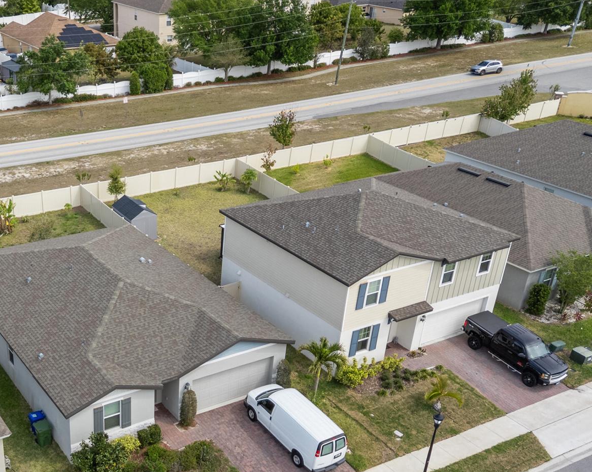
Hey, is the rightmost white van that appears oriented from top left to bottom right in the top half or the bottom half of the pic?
bottom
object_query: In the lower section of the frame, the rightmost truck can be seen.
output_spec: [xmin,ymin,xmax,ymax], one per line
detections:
[463,313,575,387]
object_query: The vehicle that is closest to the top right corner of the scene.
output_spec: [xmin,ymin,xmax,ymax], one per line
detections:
[474,59,505,75]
